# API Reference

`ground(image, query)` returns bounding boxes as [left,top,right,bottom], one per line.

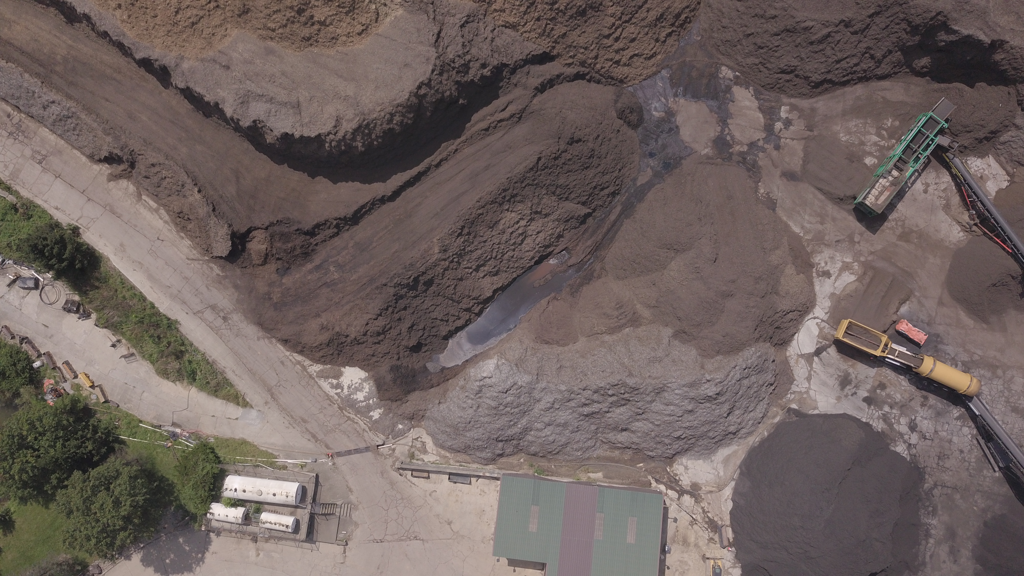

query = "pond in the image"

[424,248,602,374]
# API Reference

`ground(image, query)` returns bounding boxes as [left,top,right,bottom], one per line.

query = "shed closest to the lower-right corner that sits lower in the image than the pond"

[492,456,674,576]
